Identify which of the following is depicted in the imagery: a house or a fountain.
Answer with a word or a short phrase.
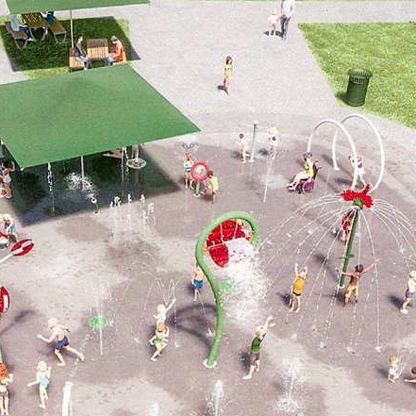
fountain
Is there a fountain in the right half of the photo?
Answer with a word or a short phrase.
Yes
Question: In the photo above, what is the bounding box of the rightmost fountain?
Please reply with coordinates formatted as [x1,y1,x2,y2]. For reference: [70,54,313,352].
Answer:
[334,174,381,290]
